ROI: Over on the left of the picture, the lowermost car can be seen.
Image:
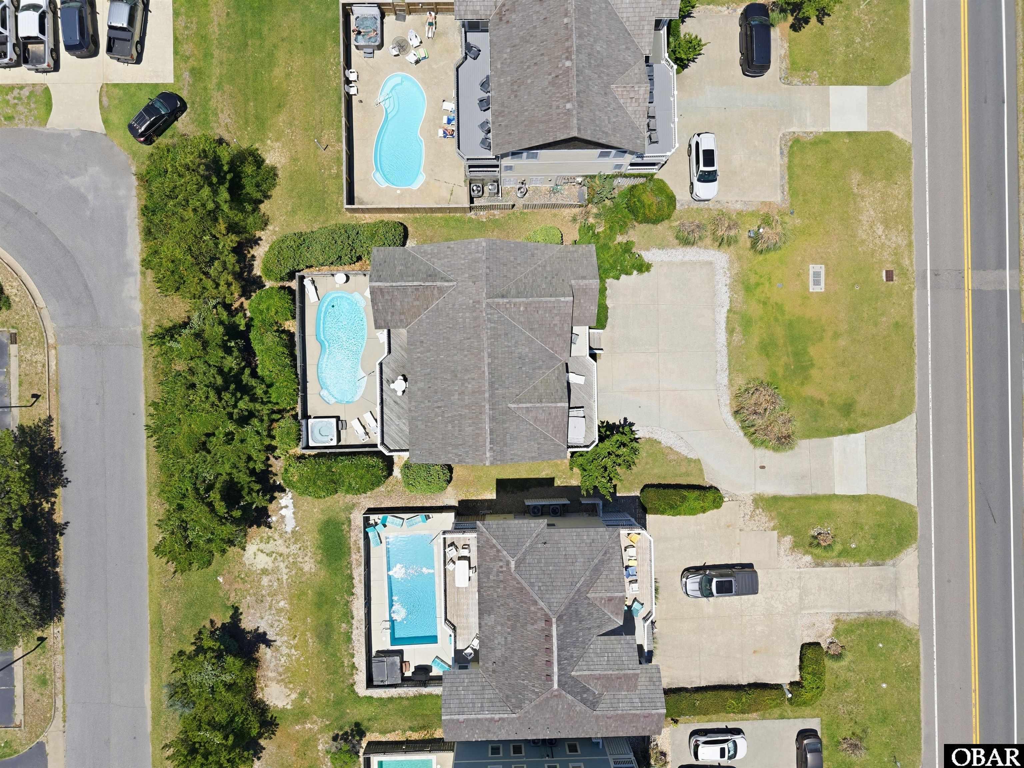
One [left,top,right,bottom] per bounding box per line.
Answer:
[128,92,191,143]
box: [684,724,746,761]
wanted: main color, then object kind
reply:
white car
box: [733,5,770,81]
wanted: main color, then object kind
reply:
black car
